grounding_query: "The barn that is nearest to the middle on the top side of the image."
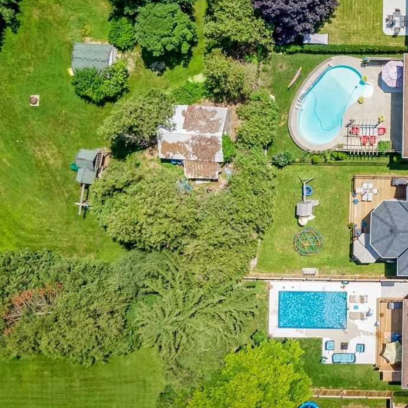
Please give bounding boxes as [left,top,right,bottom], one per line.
[158,105,233,179]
